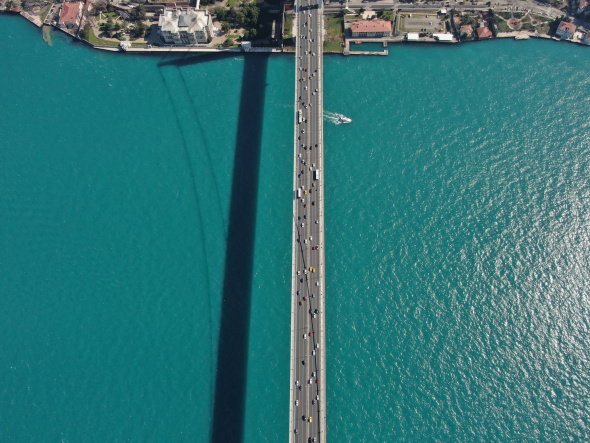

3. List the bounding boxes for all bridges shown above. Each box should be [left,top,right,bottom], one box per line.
[290,0,326,443]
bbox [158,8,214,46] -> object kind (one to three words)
building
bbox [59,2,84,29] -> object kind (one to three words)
house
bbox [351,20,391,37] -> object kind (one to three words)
building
